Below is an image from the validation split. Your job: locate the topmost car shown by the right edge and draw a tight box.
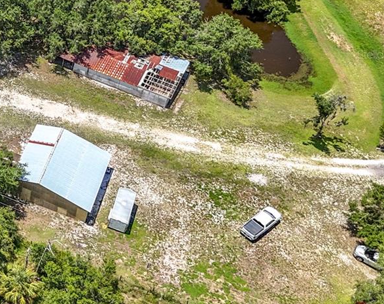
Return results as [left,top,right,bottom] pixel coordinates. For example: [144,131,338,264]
[353,247,384,276]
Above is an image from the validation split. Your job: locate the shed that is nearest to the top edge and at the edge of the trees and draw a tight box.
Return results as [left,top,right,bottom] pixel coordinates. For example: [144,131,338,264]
[64,35,184,107]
